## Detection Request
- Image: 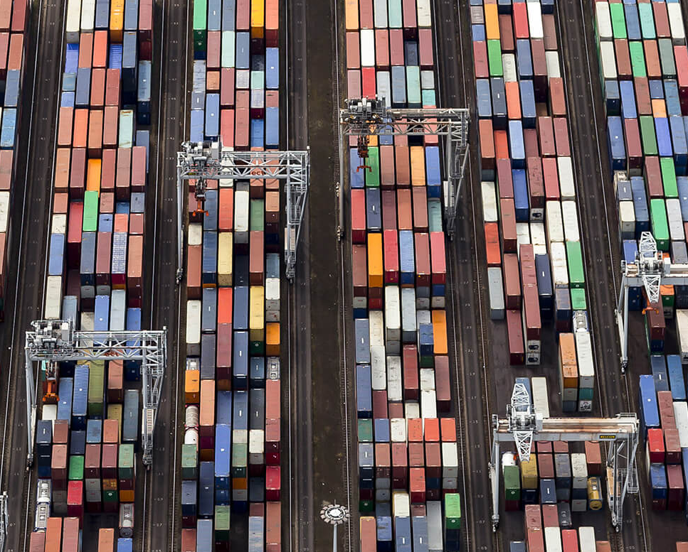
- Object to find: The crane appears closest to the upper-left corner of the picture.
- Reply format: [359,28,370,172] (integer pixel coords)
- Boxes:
[175,126,308,288]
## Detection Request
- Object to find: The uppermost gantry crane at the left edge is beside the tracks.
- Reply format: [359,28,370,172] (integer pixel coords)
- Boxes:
[22,302,164,479]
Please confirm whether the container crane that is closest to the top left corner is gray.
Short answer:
Yes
